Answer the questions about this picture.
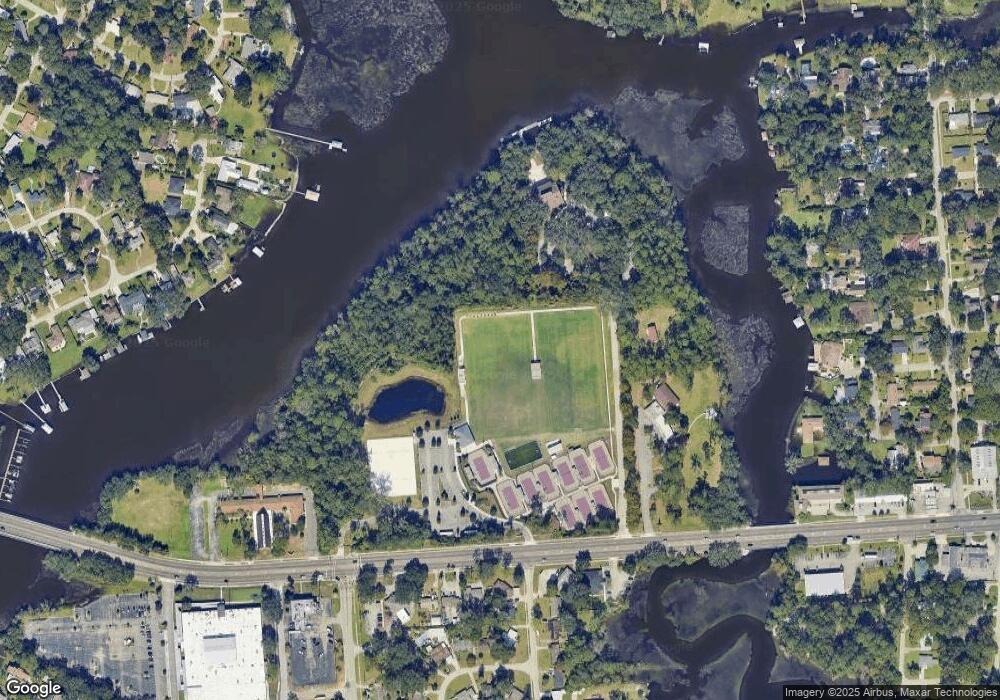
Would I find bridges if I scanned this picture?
Yes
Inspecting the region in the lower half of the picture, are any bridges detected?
Yes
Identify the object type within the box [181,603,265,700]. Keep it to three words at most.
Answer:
building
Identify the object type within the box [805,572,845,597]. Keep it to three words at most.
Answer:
shed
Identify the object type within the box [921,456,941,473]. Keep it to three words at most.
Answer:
house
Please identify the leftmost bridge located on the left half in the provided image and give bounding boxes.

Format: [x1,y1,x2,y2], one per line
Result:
[0,512,74,552]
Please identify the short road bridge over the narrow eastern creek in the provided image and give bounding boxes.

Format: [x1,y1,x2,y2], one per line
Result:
[748,523,796,549]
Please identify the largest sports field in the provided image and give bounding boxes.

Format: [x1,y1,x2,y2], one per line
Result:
[461,308,615,505]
